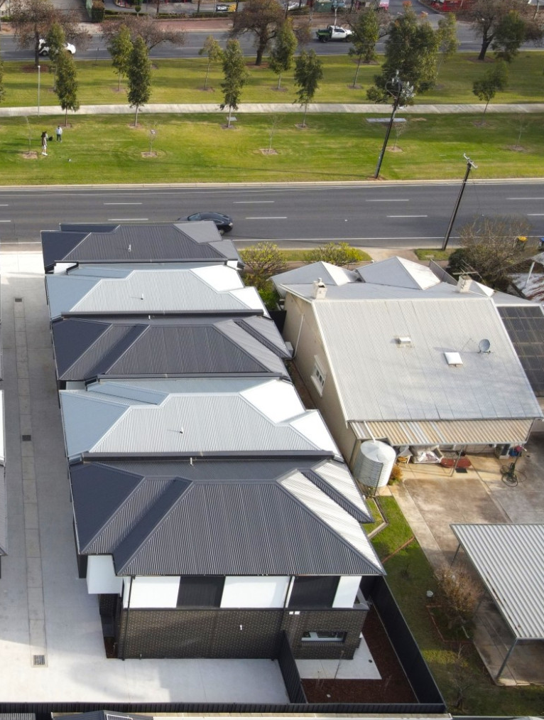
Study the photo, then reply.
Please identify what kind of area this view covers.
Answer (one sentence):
This looks like a residential area.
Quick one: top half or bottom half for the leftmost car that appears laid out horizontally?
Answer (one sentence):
You can find the leftmost car that appears laid out horizontally in the top half.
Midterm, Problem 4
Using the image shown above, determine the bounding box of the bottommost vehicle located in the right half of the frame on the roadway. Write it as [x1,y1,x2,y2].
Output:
[314,29,352,43]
